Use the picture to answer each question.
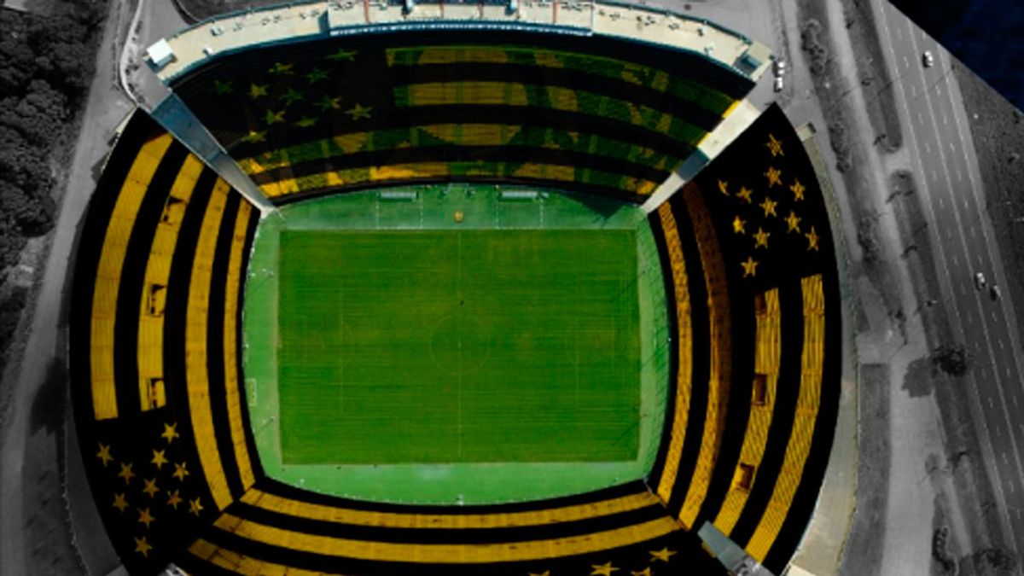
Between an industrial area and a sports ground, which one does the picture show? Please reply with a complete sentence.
The picture captures a sports ground.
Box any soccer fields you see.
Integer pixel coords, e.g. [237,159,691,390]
[279,229,640,464]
